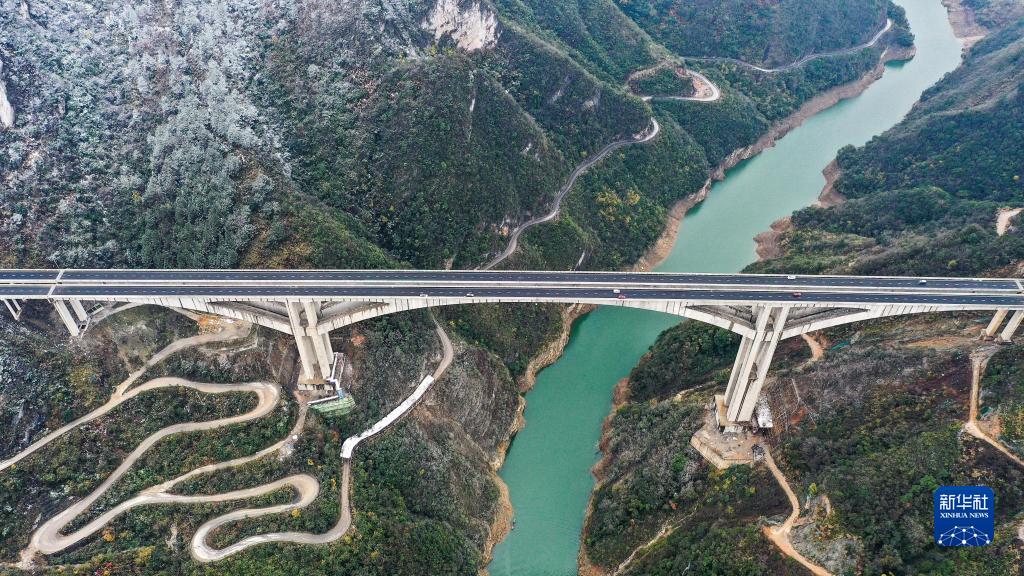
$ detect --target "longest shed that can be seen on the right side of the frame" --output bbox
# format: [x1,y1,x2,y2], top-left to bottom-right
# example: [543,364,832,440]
[756,394,773,433]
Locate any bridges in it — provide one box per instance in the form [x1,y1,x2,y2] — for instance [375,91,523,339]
[0,269,1024,433]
